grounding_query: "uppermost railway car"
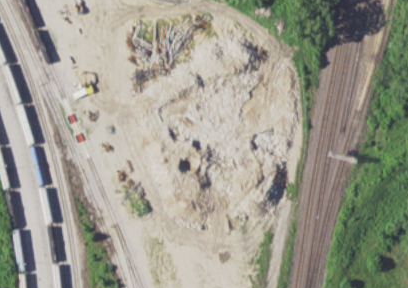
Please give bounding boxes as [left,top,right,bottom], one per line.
[19,0,38,28]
